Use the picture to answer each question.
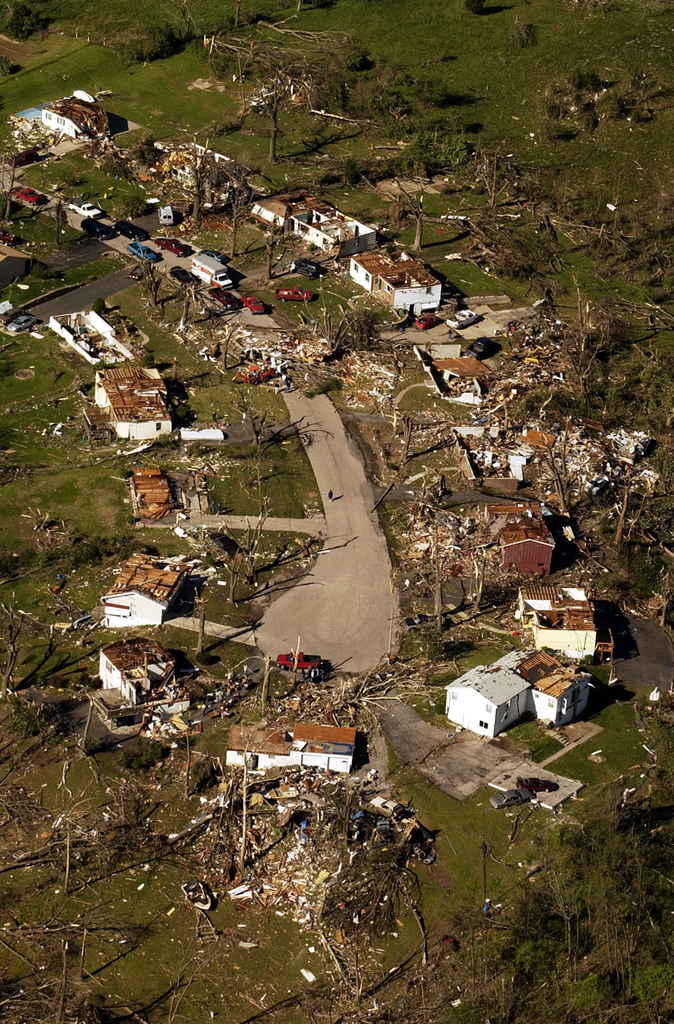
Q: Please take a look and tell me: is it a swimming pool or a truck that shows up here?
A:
truck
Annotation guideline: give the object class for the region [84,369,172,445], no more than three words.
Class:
house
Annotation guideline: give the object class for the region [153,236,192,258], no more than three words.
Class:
truck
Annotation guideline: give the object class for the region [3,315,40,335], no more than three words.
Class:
car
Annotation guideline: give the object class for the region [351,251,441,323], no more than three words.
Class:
house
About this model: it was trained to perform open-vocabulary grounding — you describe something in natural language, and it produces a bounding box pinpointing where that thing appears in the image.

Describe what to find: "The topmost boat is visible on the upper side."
[68,85,93,101]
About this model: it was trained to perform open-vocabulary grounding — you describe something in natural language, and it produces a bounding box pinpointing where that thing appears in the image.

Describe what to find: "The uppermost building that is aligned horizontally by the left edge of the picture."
[14,93,105,138]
